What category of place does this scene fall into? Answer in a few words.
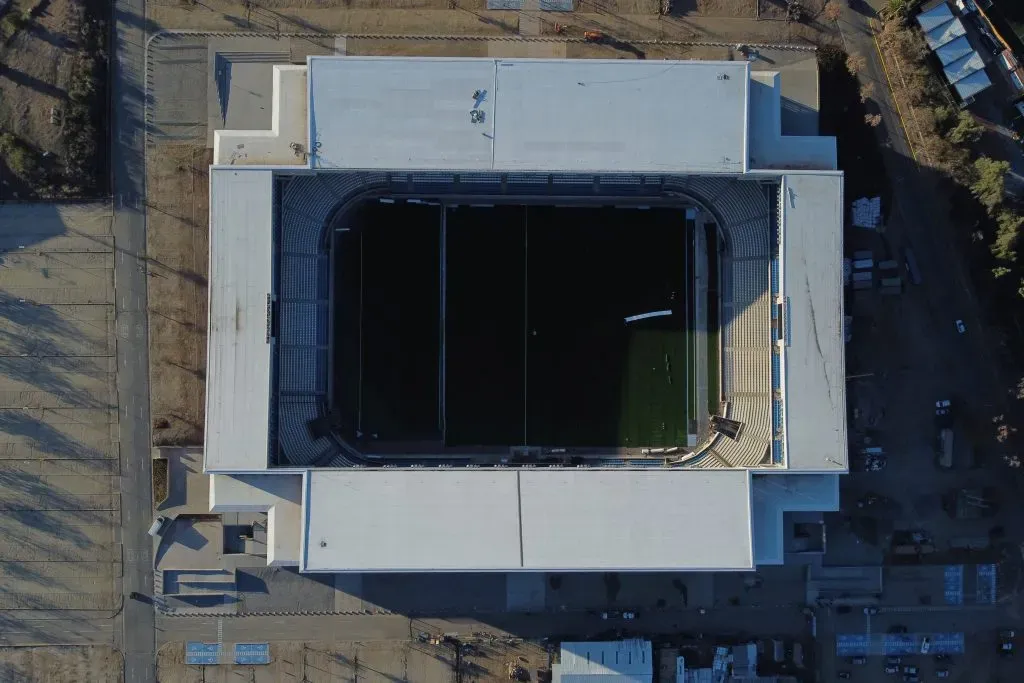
sports ground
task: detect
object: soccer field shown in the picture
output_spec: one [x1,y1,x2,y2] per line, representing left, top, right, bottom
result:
[330,196,720,455]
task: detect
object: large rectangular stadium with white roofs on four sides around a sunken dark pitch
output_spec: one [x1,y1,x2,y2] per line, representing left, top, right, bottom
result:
[204,55,848,572]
